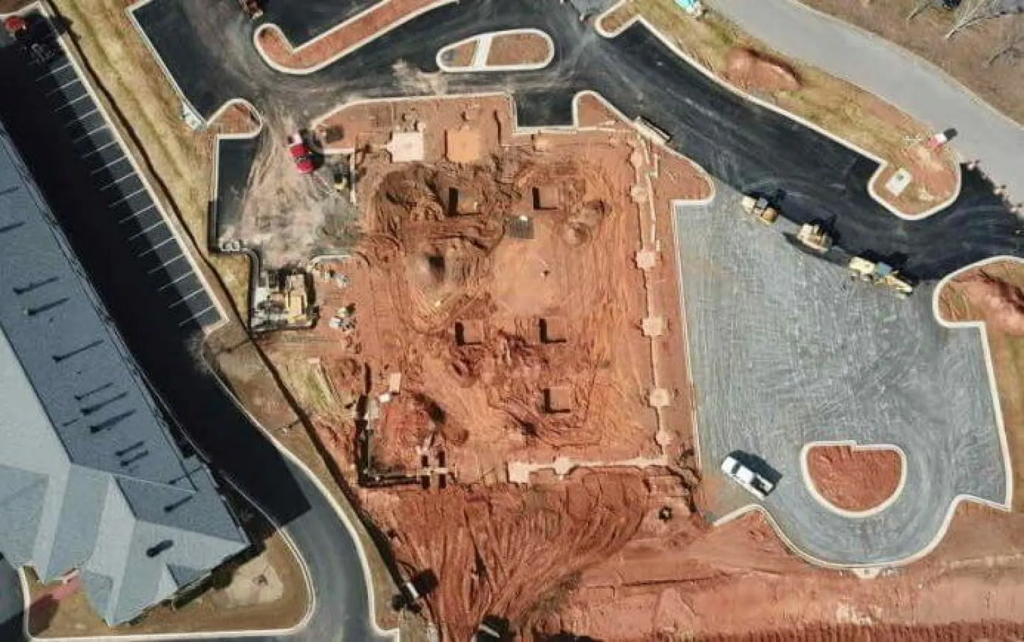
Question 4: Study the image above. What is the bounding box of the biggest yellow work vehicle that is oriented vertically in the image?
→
[285,275,307,324]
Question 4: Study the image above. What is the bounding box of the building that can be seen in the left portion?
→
[0,101,249,626]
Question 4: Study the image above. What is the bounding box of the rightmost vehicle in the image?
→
[851,255,915,296]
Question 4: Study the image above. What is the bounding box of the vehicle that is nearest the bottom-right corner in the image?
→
[723,455,777,502]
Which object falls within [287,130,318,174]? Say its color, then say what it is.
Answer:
red truck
